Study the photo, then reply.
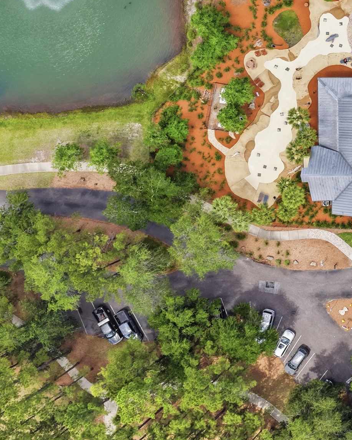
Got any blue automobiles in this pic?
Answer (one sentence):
No, no blue automobile is visible in the view.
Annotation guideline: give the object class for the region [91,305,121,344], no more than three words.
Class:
truck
